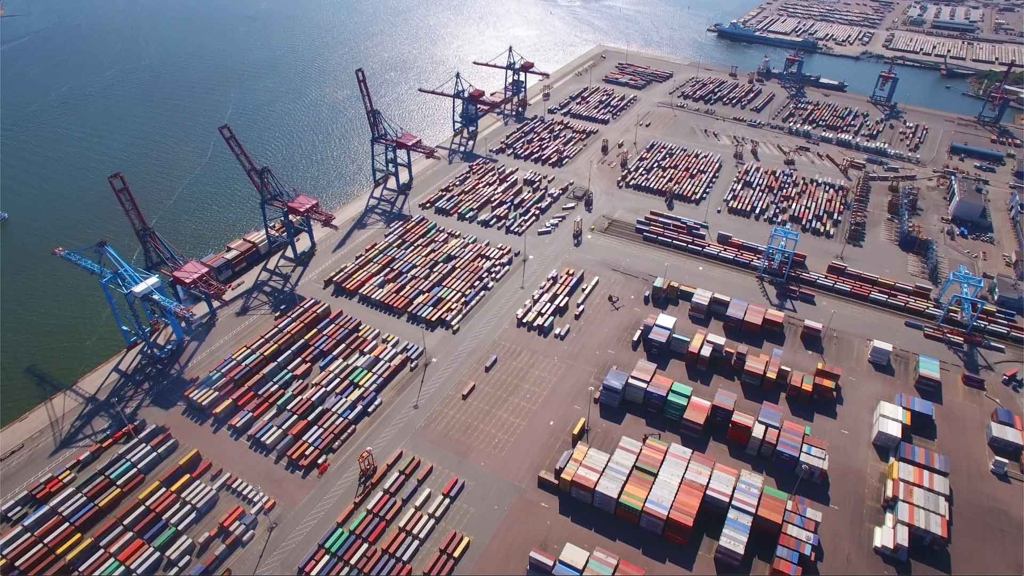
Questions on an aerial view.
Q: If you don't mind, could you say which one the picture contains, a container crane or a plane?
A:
container crane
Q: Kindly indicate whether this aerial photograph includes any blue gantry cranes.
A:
Yes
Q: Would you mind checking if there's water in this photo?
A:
Yes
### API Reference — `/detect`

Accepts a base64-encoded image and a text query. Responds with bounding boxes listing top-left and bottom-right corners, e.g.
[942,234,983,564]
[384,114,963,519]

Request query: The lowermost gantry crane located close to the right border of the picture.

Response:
[937,257,987,333]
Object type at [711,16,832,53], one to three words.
ship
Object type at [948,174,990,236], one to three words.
building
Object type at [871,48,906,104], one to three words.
crane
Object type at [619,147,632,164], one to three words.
vehicle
